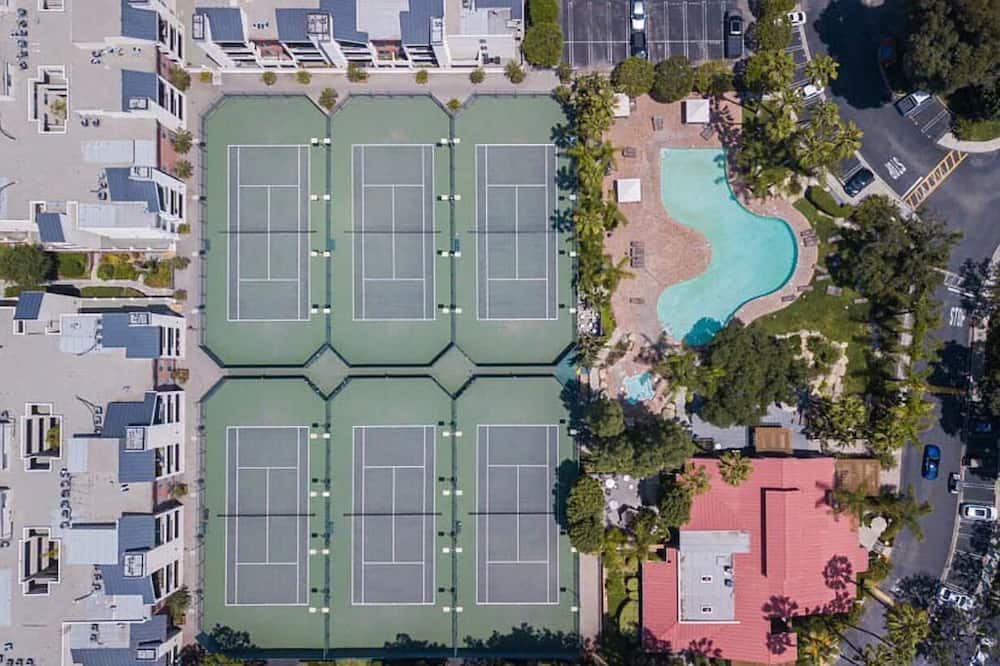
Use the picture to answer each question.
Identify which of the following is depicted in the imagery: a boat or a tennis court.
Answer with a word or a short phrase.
tennis court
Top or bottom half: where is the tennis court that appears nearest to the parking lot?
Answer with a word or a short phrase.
top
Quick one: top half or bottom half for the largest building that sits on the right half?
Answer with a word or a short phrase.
bottom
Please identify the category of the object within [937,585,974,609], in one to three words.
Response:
car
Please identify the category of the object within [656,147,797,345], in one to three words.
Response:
swimming pool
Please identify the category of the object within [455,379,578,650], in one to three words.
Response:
tennis court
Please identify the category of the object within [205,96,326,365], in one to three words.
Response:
tennis court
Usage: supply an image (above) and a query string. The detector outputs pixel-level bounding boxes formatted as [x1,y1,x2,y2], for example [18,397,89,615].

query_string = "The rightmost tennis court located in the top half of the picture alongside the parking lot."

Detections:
[456,96,577,365]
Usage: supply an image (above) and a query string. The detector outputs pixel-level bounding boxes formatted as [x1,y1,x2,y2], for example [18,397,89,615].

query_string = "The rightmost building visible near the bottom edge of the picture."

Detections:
[643,457,868,662]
